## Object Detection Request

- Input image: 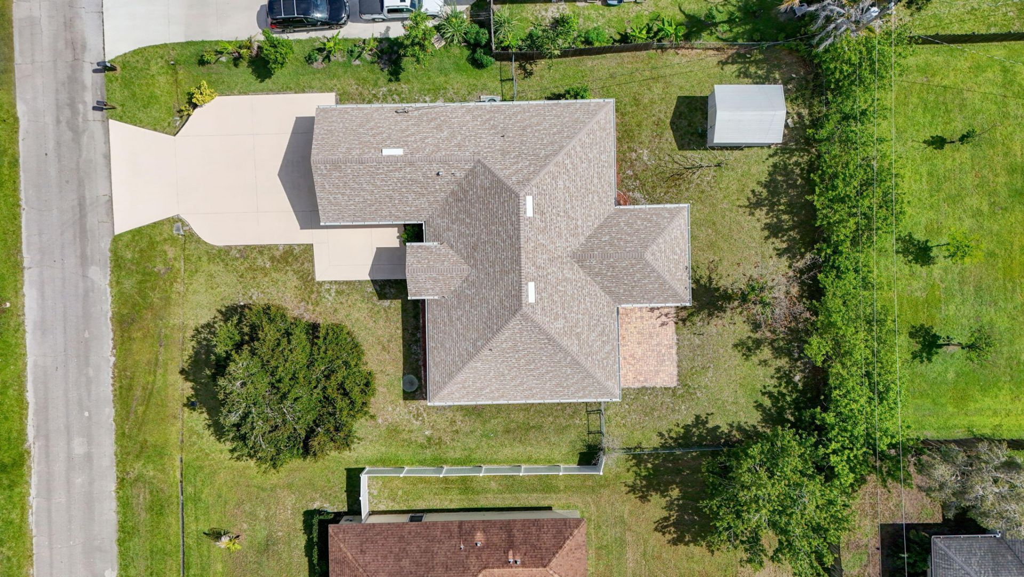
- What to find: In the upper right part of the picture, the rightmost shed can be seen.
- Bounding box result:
[707,85,786,147]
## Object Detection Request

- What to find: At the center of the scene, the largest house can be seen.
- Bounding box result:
[311,97,693,407]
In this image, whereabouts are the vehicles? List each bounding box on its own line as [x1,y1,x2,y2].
[262,0,349,34]
[358,0,447,23]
